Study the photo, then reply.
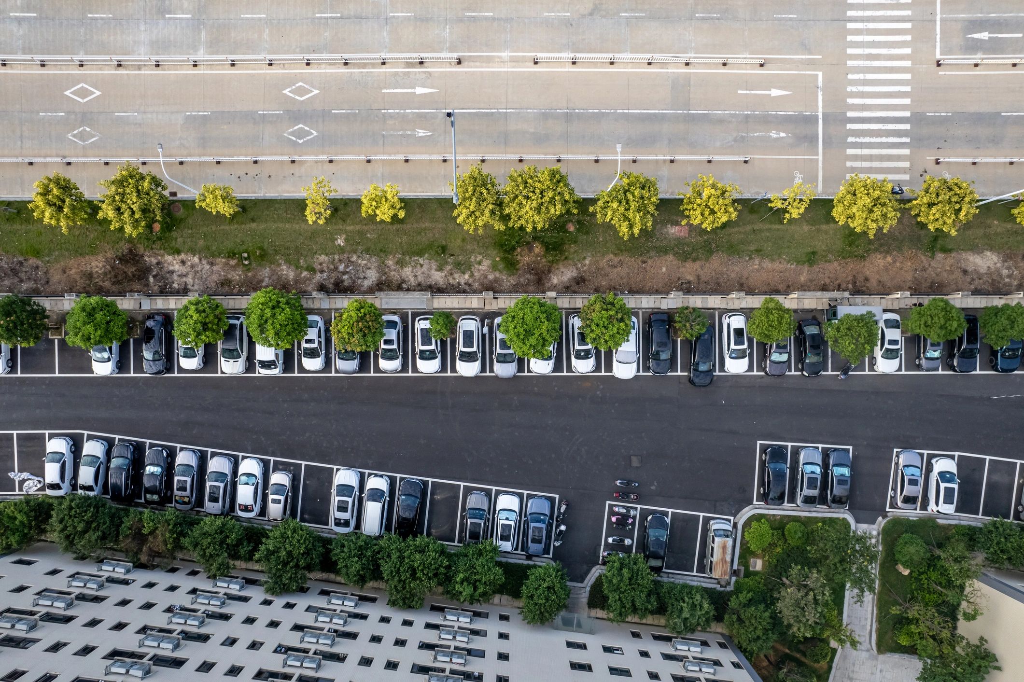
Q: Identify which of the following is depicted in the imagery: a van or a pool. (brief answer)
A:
van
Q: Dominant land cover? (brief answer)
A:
paved ground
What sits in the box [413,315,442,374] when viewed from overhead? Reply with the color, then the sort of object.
white car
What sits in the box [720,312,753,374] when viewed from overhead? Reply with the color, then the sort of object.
white car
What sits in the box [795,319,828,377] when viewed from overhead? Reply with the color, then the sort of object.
black car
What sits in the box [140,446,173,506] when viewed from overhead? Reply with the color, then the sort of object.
black car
